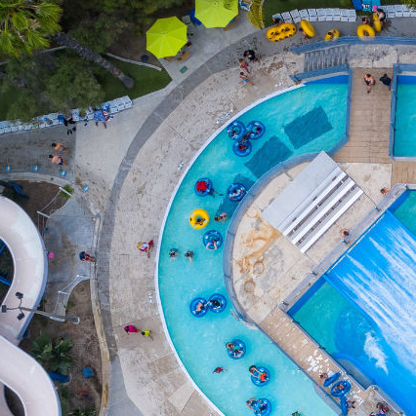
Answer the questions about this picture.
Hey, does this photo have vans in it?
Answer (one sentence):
No, the photo shows no van.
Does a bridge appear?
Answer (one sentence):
Yes, you can see a bridge in this photo.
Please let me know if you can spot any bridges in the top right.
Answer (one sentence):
Yes, there is a bridge in the top right.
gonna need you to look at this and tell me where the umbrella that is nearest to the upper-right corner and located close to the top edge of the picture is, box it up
[198,0,242,30]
